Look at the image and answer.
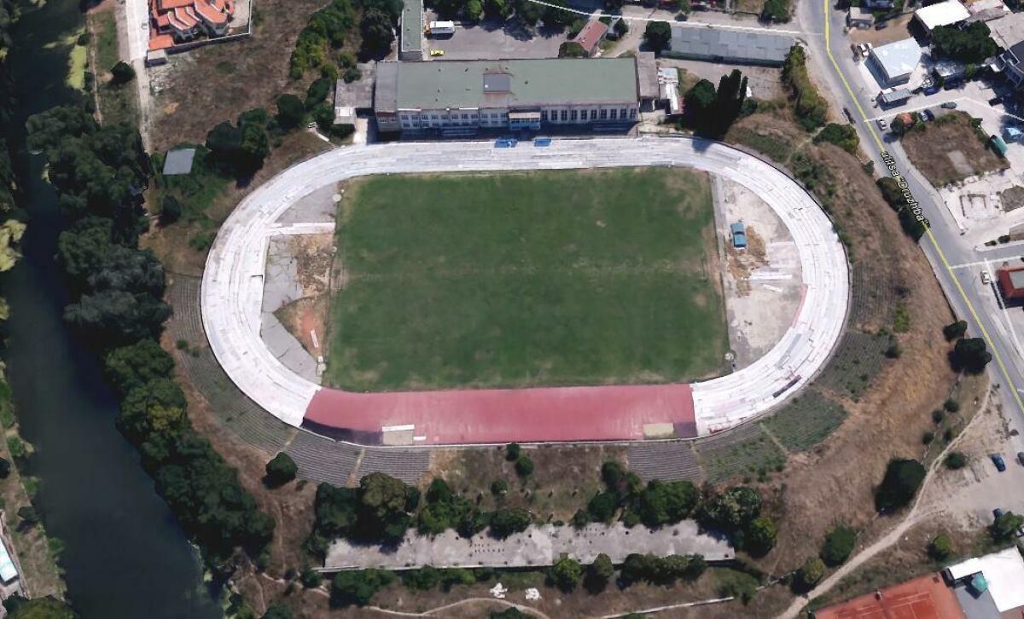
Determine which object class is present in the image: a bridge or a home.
home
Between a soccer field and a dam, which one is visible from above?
soccer field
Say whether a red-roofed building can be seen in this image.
Yes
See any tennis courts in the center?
No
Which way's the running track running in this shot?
from side to side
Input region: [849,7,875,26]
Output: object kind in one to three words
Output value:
shed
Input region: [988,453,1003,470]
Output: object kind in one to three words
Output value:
car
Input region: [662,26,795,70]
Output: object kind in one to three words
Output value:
building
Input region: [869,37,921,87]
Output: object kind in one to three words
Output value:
house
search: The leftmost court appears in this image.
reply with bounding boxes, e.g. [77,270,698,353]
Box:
[814,592,895,619]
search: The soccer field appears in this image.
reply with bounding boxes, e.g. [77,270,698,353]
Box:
[324,167,731,390]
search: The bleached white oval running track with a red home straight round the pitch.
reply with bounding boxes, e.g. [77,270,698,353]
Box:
[198,134,853,449]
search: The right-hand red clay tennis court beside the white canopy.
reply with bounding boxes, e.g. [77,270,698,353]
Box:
[879,572,972,619]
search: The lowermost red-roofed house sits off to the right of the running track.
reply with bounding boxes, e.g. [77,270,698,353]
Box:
[995,263,1024,306]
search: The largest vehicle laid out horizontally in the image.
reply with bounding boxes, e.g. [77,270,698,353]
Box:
[427,23,454,37]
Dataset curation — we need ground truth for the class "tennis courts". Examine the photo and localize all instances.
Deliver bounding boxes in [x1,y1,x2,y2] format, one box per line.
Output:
[814,592,895,619]
[879,572,972,619]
